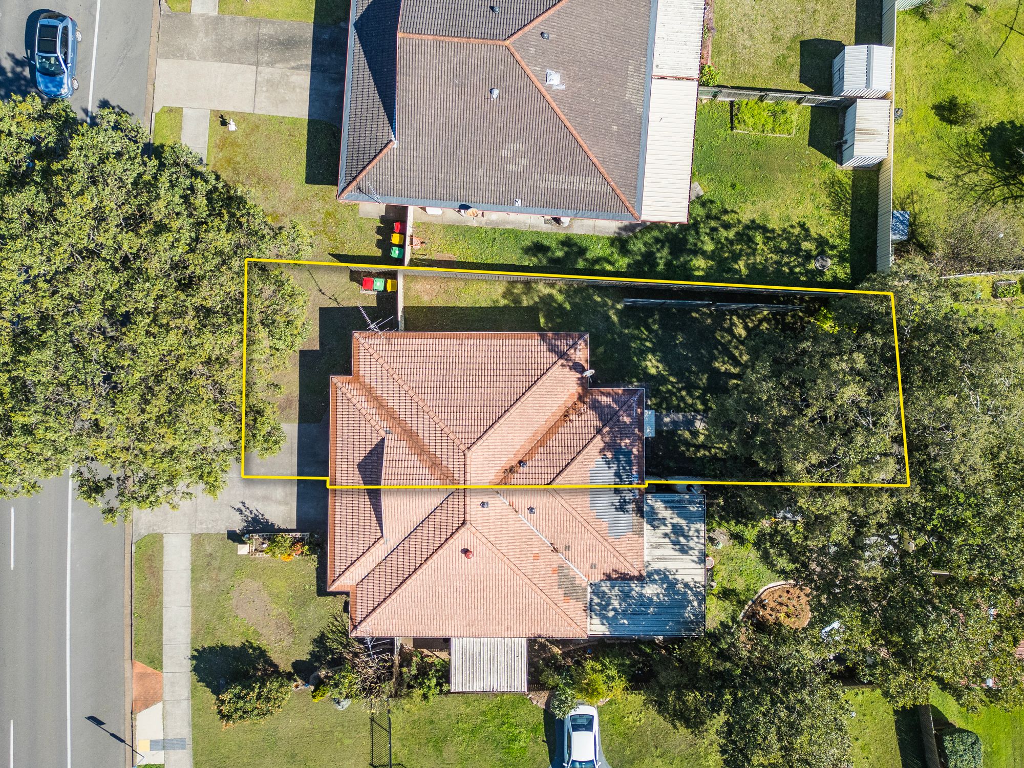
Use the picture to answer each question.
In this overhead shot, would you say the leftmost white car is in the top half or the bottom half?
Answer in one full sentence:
The bottom half of the photo is where the leftmost white car is.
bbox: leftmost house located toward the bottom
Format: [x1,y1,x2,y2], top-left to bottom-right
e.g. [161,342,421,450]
[327,331,646,639]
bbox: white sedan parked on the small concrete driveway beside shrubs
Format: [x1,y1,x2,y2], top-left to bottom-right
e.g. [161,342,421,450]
[562,700,603,768]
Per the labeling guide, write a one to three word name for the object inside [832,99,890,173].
shed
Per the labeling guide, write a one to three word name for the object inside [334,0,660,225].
house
